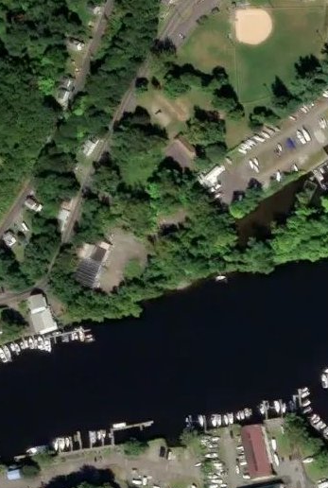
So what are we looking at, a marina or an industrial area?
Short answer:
marina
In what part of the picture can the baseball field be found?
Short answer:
top right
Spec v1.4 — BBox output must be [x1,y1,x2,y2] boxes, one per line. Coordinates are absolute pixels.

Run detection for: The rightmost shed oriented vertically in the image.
[240,425,274,477]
